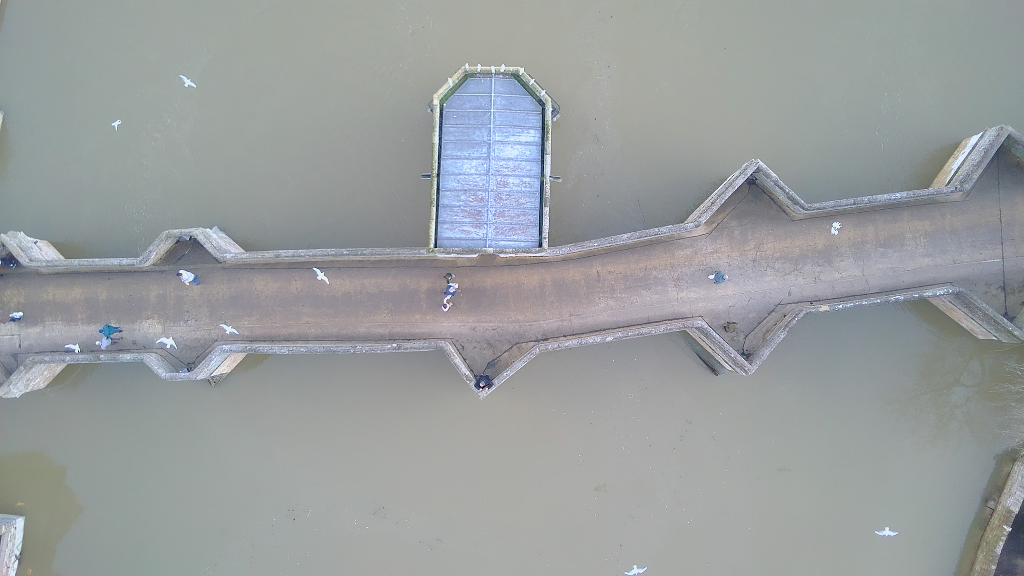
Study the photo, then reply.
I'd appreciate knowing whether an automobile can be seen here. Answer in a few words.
No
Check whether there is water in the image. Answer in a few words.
Yes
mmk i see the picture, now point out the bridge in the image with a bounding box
[0,125,1024,399]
